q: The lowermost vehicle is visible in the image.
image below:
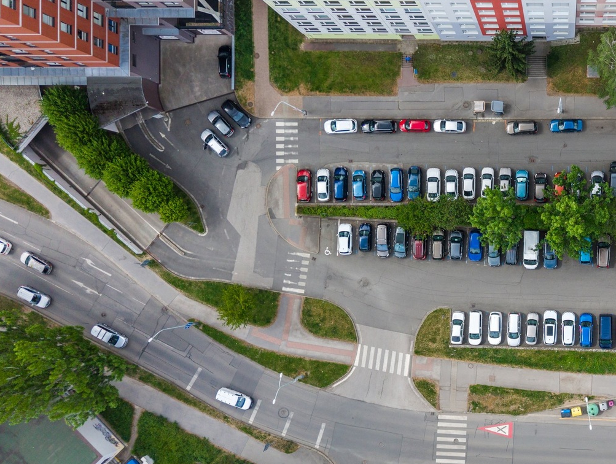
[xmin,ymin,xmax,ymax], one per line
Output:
[215,387,254,410]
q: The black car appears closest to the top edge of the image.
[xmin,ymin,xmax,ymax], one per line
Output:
[216,45,234,79]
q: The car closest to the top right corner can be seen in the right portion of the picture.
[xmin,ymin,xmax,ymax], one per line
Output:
[550,117,583,134]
